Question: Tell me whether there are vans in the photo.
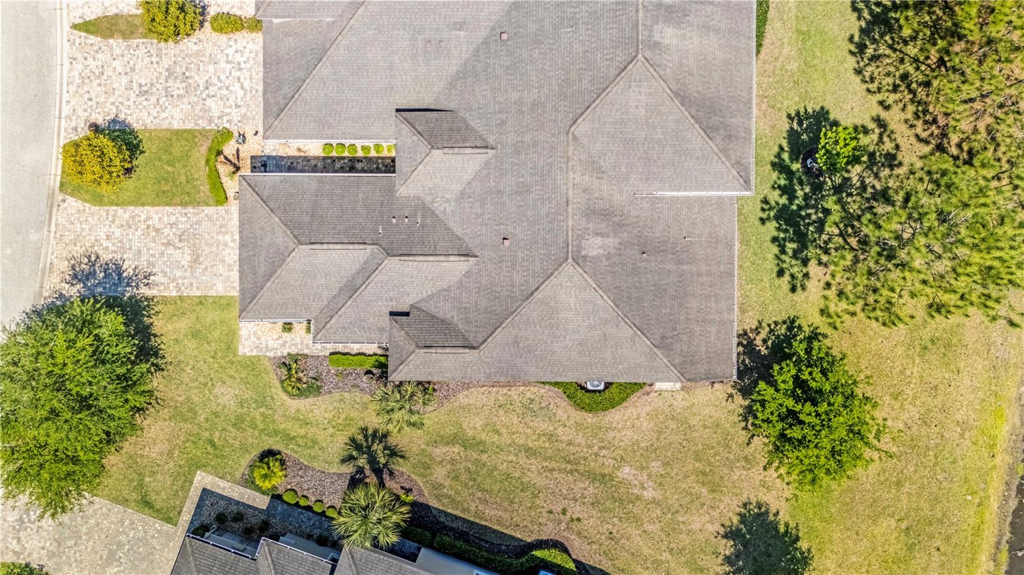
No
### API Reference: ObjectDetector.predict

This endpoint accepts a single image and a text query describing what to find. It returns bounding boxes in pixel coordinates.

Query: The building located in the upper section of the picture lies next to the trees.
[239,0,758,382]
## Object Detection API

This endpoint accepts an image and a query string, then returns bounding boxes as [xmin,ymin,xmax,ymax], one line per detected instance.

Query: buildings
[172,521,496,575]
[239,0,758,382]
